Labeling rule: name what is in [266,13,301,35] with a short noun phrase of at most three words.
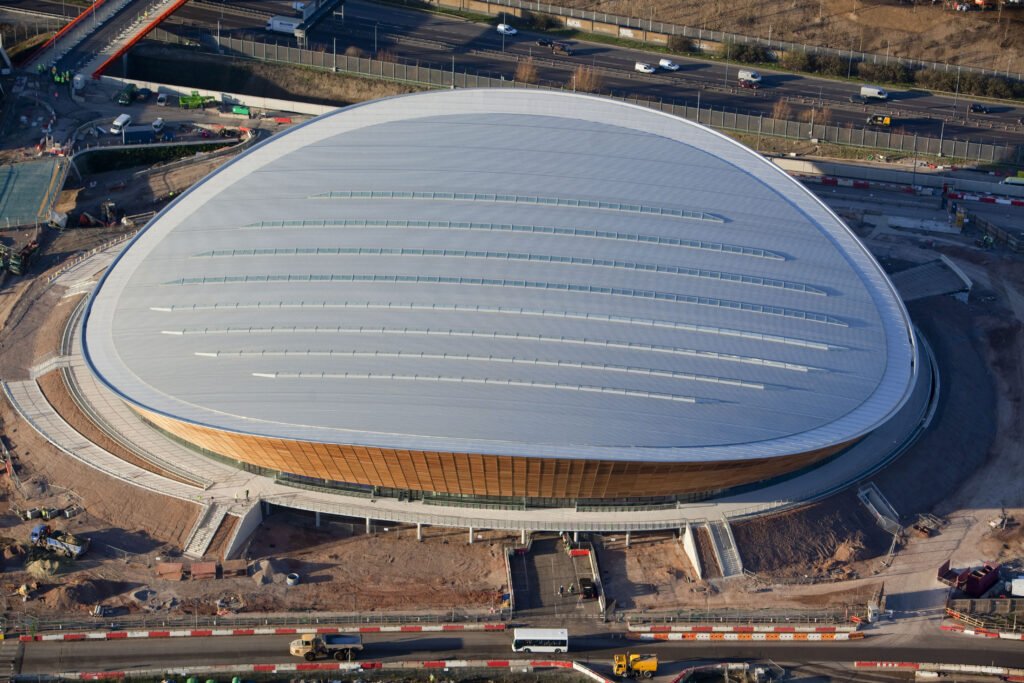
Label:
truck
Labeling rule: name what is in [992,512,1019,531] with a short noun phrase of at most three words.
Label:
work vehicle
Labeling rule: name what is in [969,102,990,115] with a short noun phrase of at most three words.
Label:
vehicle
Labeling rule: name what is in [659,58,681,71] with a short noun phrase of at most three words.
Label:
vehicle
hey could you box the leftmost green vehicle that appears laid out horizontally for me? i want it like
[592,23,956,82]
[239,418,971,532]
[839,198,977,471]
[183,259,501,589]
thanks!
[176,95,211,112]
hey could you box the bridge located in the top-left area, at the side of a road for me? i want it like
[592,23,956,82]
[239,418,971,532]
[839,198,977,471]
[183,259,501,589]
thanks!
[14,0,195,86]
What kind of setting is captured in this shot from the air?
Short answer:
sports ground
